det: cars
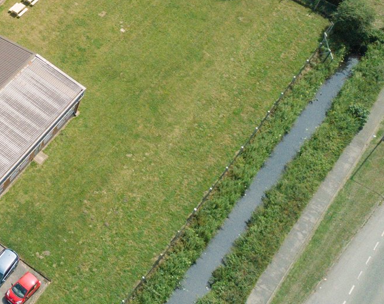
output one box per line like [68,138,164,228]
[0,248,21,291]
[6,269,43,304]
